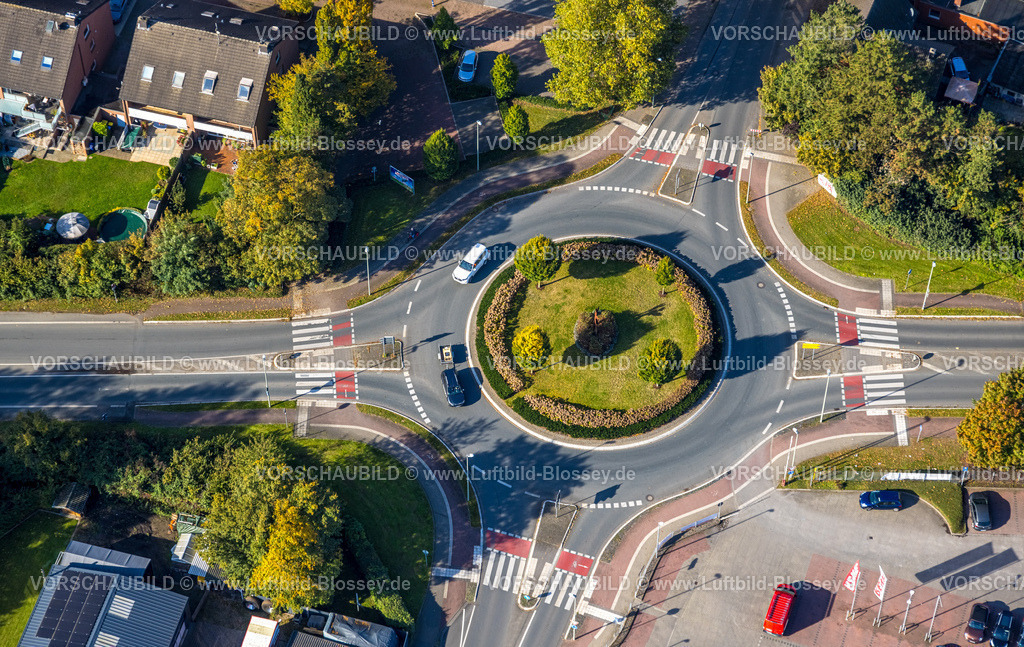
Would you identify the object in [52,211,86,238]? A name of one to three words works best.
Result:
umbrella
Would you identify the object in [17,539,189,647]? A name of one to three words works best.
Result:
building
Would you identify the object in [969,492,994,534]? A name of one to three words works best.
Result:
car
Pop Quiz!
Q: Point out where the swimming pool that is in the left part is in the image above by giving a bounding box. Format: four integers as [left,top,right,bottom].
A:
[97,203,147,247]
